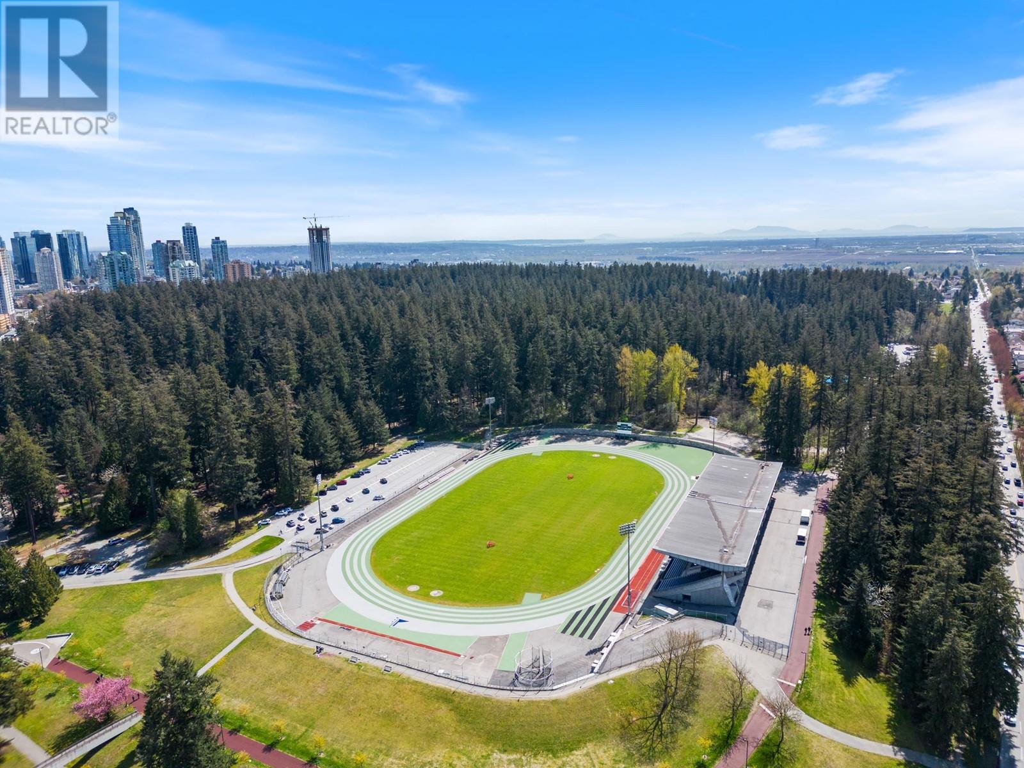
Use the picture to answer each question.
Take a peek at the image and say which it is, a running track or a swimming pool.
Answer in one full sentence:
The image shows a running track.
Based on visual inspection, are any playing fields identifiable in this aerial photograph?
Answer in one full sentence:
Yes, there's a playing field down there.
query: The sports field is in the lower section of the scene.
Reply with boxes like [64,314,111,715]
[376,451,661,605]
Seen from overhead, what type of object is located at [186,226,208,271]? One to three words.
building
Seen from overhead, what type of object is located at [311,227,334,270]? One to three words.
building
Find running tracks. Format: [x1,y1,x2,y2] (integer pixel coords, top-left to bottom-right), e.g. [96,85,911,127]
[339,444,690,627]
